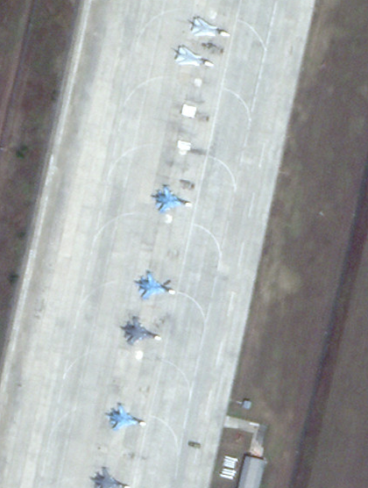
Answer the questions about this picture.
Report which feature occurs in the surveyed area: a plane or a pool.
plane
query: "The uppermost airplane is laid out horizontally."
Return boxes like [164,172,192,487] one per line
[190,19,230,38]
